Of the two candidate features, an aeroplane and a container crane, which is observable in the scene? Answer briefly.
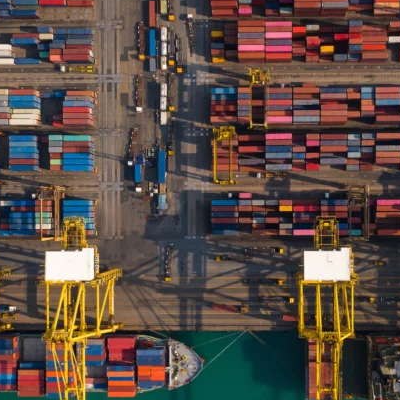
container crane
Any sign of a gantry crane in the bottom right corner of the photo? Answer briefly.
Yes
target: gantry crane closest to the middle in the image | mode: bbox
[212,125,237,187]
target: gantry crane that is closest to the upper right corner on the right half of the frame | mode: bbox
[246,68,271,134]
